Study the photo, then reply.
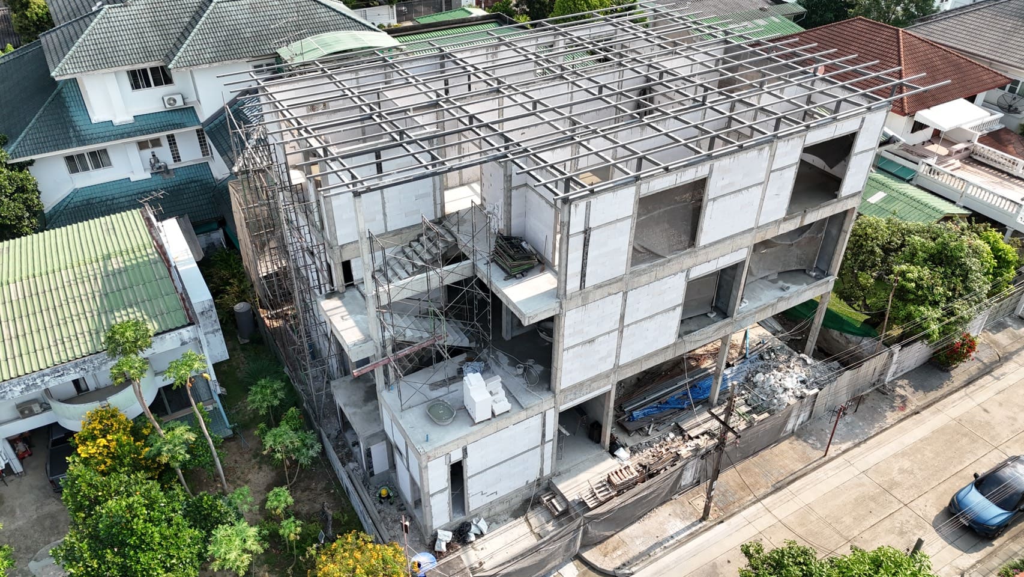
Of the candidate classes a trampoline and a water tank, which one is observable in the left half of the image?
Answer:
water tank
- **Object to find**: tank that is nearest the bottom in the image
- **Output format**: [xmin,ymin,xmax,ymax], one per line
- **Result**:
[230,299,263,355]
